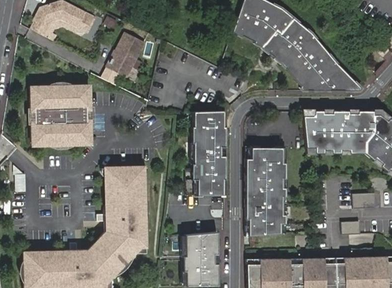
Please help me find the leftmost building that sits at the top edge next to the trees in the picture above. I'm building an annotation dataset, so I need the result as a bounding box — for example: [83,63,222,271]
[32,0,96,40]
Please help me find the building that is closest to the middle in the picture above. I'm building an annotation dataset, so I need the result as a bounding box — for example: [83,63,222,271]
[192,112,228,196]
